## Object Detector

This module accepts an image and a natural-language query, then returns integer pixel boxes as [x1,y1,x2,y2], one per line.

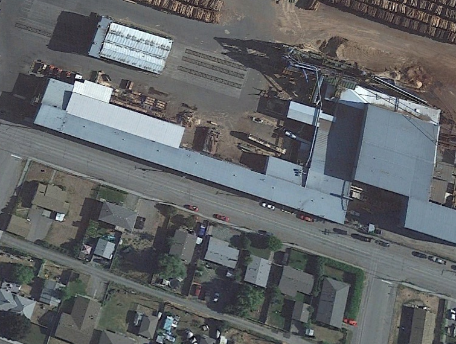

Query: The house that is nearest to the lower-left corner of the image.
[0,287,36,317]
